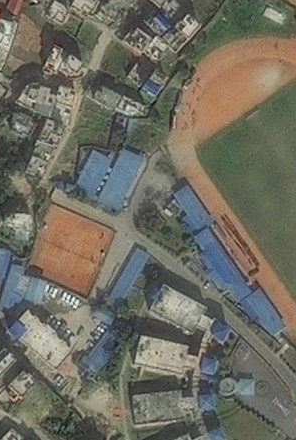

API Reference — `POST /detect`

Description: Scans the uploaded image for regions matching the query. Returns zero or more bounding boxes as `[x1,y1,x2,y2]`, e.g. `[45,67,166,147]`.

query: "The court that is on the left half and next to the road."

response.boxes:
[25,200,118,303]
